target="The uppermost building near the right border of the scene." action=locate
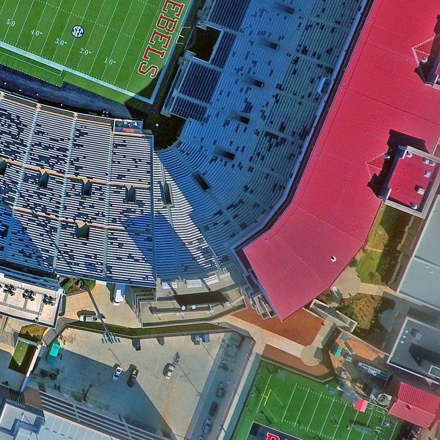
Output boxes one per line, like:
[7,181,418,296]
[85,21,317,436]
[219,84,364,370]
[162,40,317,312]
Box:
[375,181,440,311]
